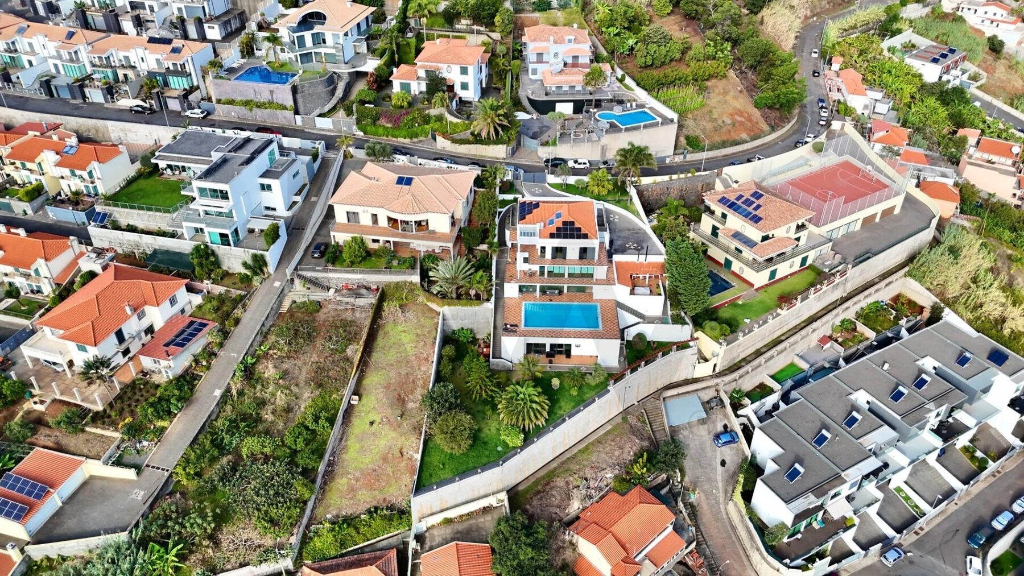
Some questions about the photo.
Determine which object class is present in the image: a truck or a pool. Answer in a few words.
pool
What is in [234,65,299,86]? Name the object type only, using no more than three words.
swimming pool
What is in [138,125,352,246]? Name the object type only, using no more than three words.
house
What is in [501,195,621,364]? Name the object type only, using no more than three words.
house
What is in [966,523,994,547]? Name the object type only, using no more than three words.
car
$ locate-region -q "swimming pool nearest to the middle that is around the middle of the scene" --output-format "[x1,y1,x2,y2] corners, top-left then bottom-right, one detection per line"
[525,304,599,328]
